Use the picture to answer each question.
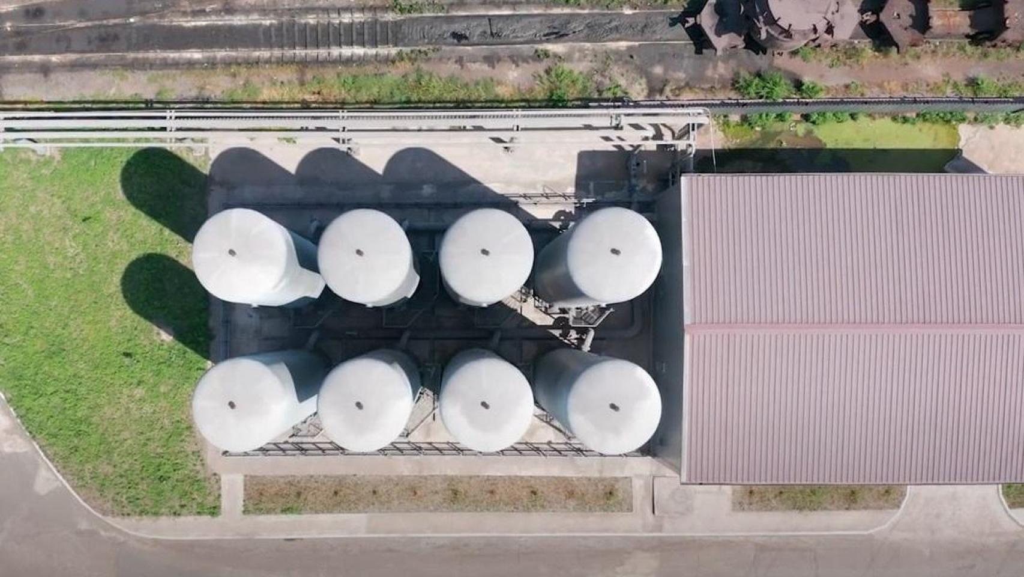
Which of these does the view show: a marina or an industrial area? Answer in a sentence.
What you see here is an industrial area.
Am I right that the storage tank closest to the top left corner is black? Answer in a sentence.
No, the storage tank closest to the top left corner is white.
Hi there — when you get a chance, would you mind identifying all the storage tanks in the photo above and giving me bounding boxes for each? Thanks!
[439,209,534,311]
[192,325,334,453]
[192,209,333,311]
[529,209,662,311]
[318,325,425,453]
[439,325,534,453]
[529,325,662,453]
[318,209,425,311]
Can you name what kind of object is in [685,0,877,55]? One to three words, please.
rail car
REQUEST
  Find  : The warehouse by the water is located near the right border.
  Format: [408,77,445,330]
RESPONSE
[653,174,1024,484]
